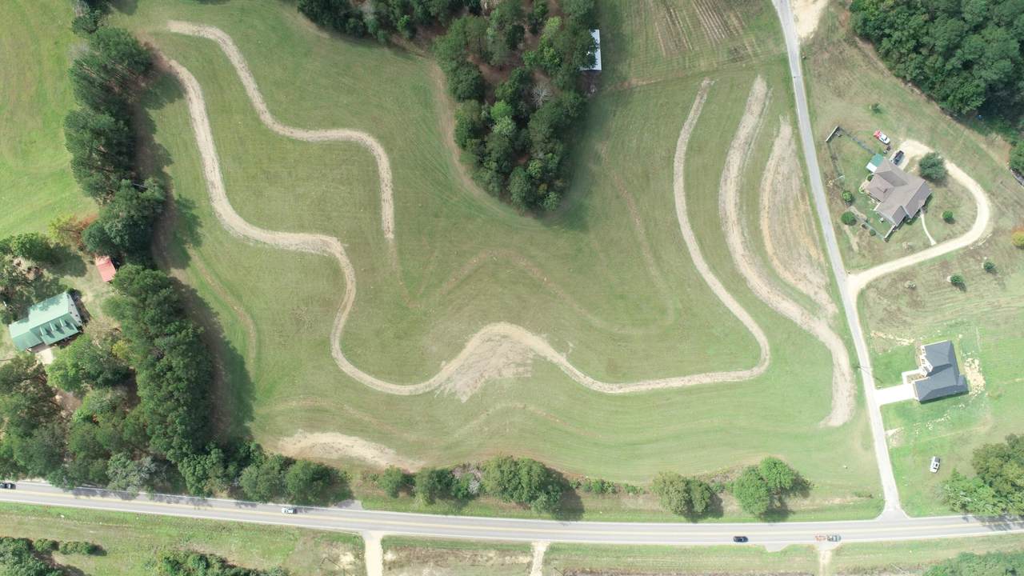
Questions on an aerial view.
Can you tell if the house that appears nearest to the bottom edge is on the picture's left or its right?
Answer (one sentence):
The house that appears nearest to the bottom edge appears in the right half of the scene.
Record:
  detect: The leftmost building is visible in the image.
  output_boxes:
[9,292,87,351]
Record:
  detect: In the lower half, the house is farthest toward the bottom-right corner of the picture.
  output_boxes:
[910,338,970,406]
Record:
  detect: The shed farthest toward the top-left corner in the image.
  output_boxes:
[94,257,115,282]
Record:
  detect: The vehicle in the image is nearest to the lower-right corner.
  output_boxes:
[928,455,940,473]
